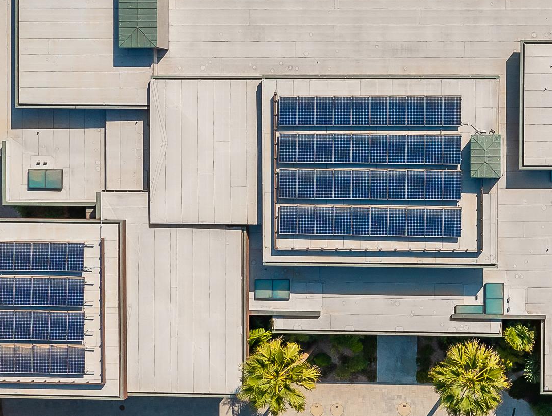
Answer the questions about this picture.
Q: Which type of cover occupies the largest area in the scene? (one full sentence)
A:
The bulk of the photo consists of buildings.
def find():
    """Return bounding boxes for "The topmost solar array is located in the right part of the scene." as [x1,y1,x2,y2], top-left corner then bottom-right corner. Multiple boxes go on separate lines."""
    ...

[279,96,461,125]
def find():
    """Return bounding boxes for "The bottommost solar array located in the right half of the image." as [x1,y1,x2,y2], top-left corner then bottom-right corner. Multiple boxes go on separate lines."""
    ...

[279,206,462,236]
